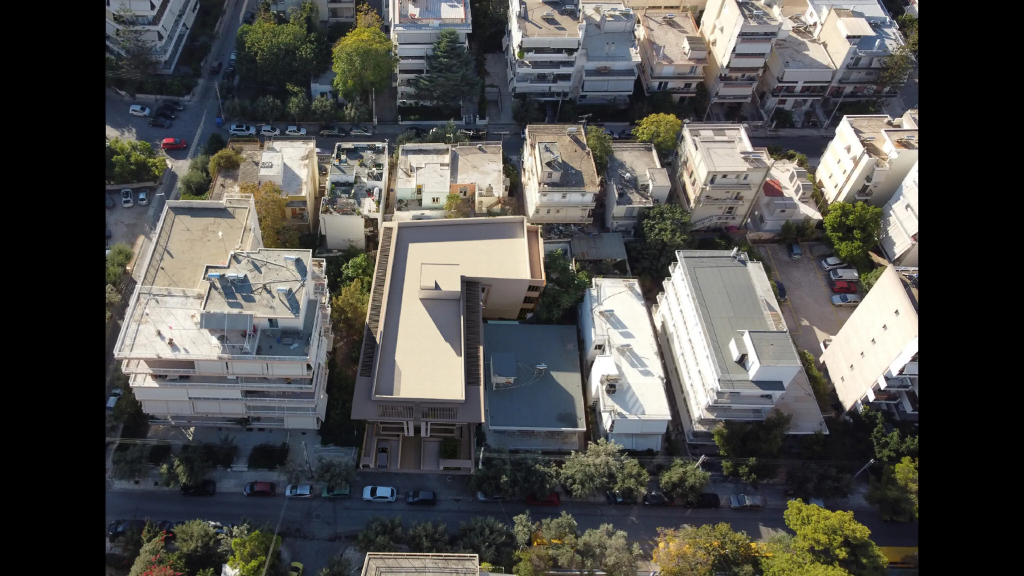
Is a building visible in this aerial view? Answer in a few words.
Yes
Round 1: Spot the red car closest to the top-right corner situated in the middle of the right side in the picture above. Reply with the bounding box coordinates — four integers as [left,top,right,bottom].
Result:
[830,281,859,294]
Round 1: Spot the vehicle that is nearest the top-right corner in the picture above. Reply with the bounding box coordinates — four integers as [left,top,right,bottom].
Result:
[807,111,819,128]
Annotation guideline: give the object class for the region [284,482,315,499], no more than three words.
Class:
car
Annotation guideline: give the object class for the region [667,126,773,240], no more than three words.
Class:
house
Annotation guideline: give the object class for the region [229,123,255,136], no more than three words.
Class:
vehicle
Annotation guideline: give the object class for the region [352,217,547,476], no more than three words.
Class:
building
